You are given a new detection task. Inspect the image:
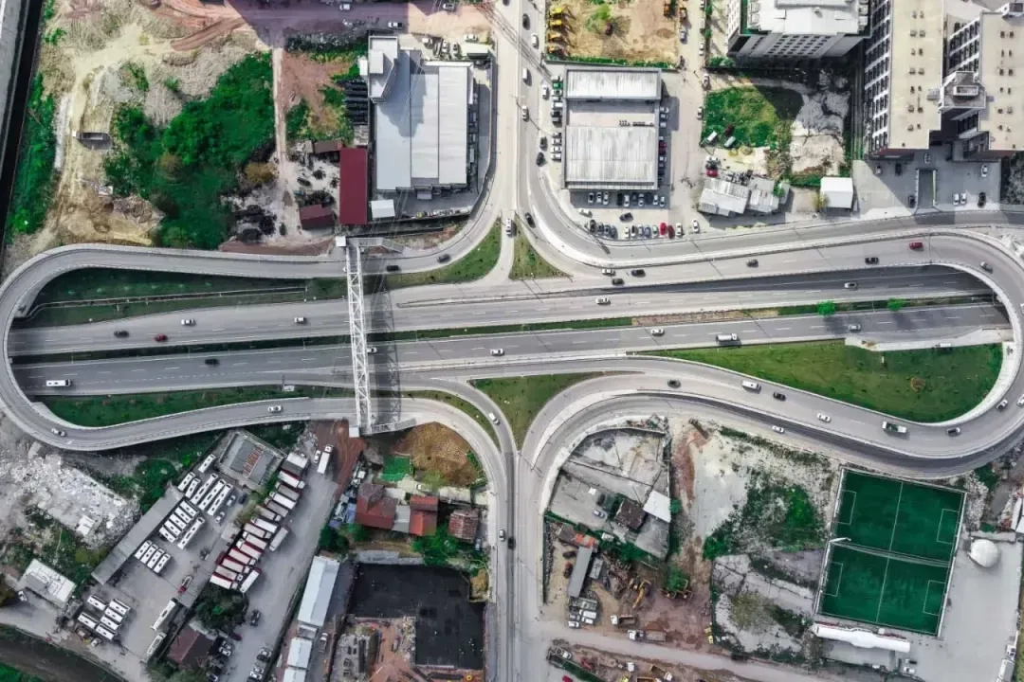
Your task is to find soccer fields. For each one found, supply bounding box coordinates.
[817,542,957,640]
[831,470,972,568]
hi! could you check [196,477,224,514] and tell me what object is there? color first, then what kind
white bus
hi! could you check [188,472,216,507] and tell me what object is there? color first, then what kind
white bus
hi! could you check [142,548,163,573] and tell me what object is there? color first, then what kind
white vehicle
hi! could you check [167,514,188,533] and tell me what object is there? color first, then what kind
white vehicle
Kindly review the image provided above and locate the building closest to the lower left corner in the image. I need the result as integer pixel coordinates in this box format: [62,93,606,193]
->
[21,555,86,603]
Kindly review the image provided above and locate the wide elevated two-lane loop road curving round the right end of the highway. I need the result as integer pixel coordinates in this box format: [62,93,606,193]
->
[621,227,1024,459]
